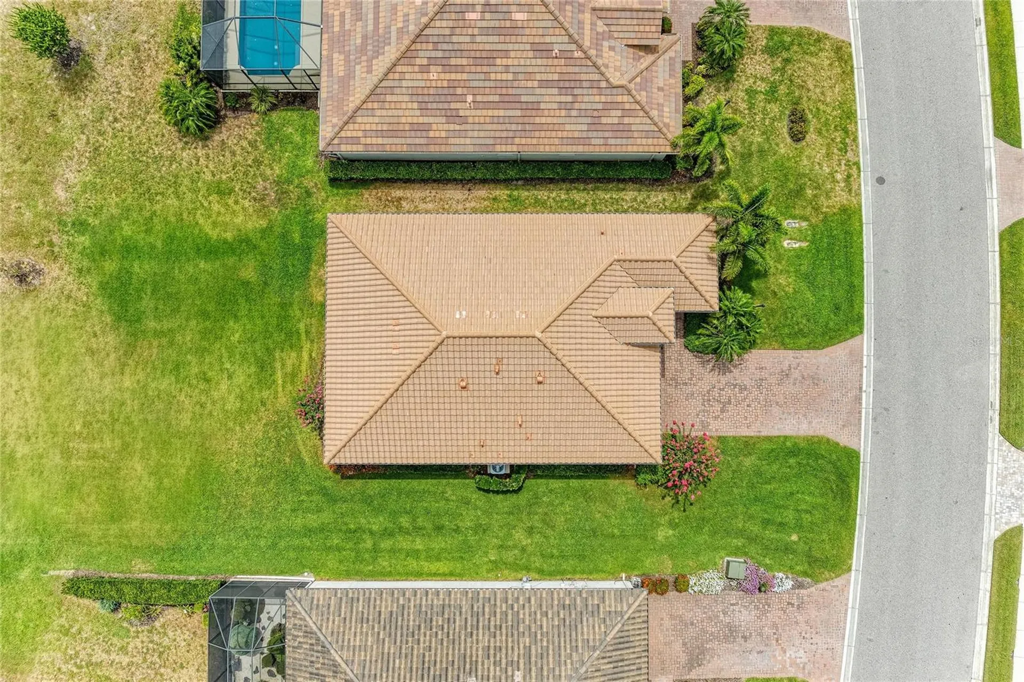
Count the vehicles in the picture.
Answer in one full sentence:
I count no vehicles.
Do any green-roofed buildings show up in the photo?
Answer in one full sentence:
No, I can't see a single green-roofed building in this photo.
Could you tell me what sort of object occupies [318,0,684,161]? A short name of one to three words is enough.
house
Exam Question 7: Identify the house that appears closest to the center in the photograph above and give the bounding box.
[323,211,721,465]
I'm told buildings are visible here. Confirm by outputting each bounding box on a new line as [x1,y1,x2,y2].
[318,0,684,161]
[284,579,650,682]
[323,211,721,465]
